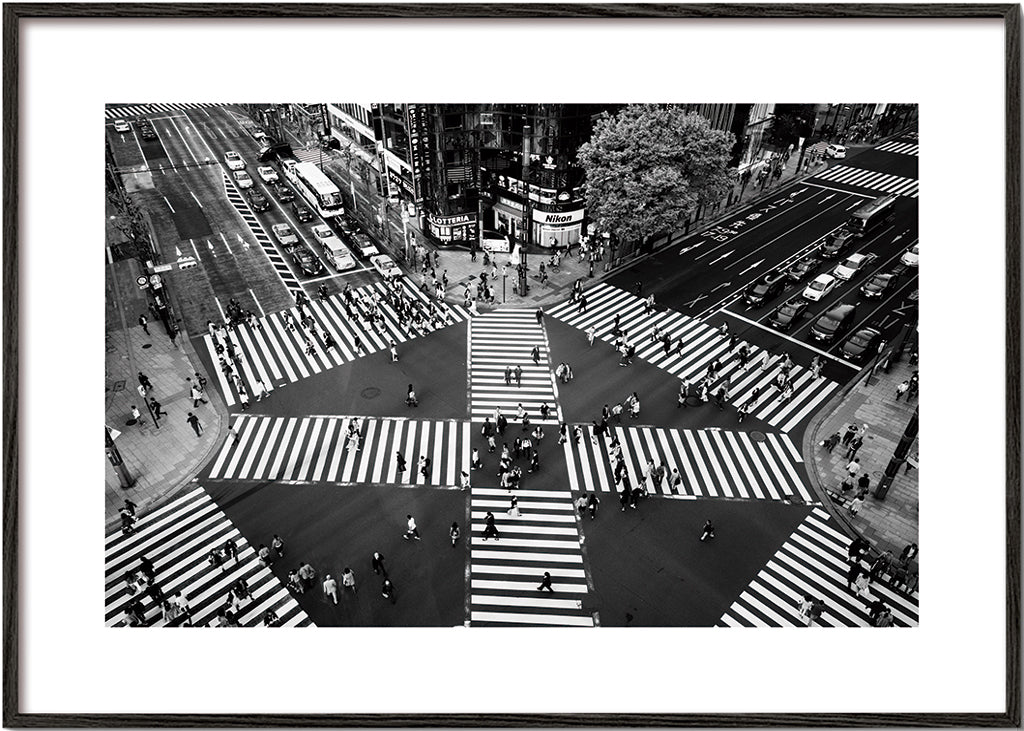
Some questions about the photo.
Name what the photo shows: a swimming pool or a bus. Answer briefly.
bus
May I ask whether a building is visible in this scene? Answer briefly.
Yes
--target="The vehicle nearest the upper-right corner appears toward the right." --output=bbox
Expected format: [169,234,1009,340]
[898,127,919,141]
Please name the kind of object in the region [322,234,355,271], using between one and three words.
van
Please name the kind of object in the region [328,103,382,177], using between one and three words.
building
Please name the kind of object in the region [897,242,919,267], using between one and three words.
car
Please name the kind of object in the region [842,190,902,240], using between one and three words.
bus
